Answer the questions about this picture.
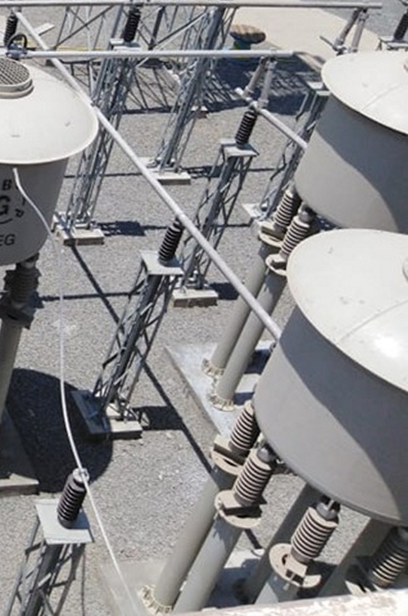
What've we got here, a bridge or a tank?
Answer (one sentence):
Looking from above, you can make out a tank.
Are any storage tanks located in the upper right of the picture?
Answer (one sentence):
Yes, a storage tank can be seen in the upper right of the picture.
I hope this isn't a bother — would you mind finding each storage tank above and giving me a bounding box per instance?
[0,159,70,262]
[297,90,408,234]
[258,309,408,518]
